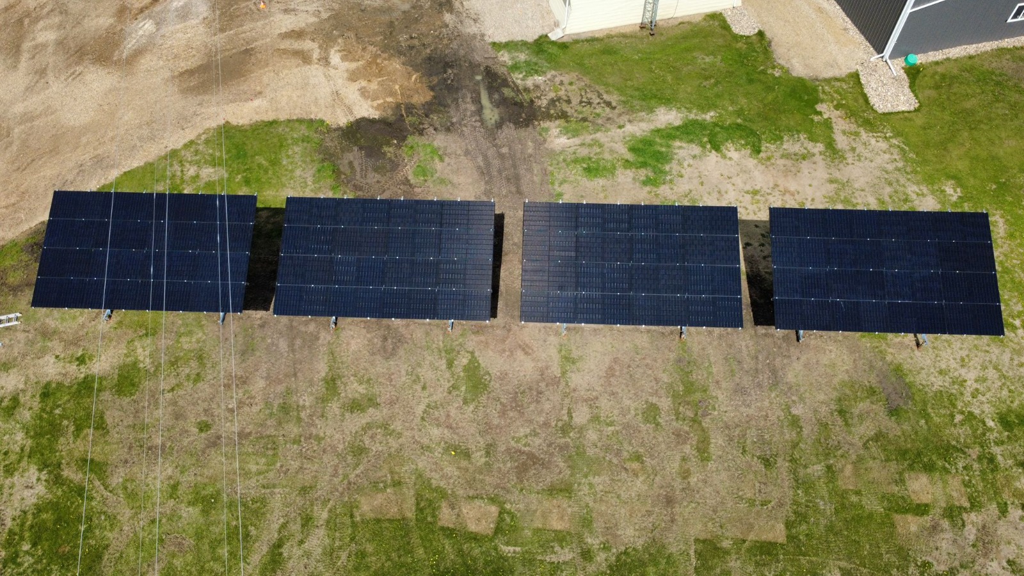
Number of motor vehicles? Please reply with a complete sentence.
Not a single motor vehicle can be seen.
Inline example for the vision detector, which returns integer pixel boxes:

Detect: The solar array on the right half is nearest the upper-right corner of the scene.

[769,204,1003,346]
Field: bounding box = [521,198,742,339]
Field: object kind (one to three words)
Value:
solar array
